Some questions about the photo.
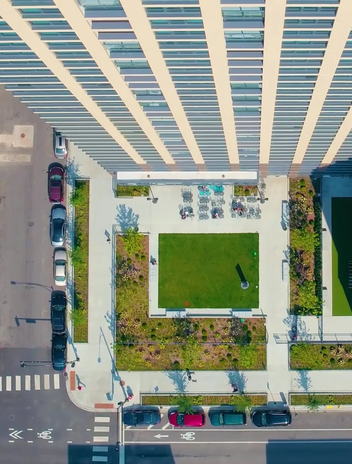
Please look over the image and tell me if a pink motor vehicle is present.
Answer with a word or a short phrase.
Yes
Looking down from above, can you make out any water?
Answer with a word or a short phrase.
No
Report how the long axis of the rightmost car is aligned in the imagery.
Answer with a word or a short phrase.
from side to side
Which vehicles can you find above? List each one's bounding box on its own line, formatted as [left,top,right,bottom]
[50,248,69,286]
[49,332,68,371]
[51,127,69,160]
[46,162,66,202]
[251,409,293,429]
[49,290,69,334]
[122,409,161,428]
[209,409,247,429]
[169,411,206,429]
[49,205,68,247]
